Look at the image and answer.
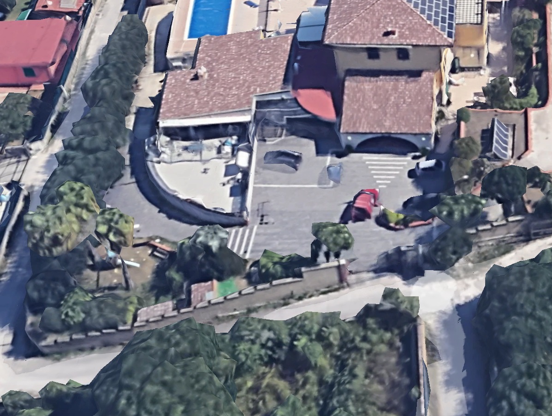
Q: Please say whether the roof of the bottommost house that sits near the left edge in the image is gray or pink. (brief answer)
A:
pink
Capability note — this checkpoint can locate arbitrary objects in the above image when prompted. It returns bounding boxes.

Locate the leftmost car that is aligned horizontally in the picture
[261,147,306,172]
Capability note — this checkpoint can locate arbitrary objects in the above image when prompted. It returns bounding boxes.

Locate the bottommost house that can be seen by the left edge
[0,19,78,100]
